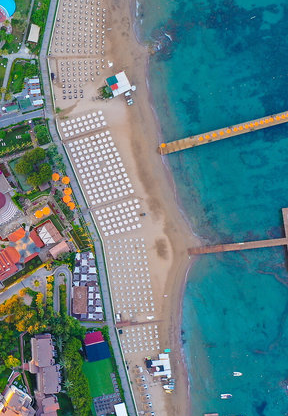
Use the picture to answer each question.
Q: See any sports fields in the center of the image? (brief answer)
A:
No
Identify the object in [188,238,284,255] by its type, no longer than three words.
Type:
pier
